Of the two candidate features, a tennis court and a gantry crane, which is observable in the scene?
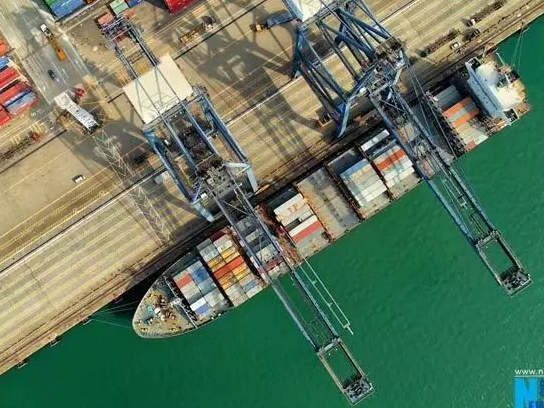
gantry crane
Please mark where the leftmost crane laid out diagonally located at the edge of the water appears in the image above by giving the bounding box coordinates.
[99,12,377,407]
